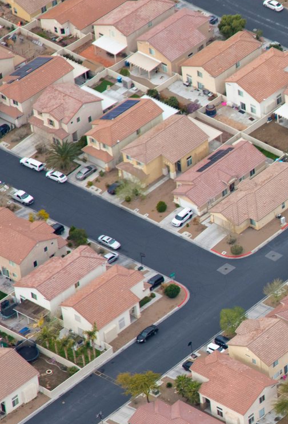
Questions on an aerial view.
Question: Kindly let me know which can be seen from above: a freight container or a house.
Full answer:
It is a house that can be seen here.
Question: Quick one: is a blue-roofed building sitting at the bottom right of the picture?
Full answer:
No, the scene shows no blue-roofed building at the bottom right of the picture.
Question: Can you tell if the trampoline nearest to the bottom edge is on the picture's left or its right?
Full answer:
The trampoline nearest to the bottom edge sits on the left side.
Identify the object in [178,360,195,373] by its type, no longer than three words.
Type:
vehicle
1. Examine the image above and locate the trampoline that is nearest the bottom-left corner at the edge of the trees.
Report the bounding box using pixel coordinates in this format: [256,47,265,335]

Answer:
[16,336,38,357]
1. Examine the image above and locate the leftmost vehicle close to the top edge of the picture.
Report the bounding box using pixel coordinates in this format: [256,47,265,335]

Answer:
[204,15,223,27]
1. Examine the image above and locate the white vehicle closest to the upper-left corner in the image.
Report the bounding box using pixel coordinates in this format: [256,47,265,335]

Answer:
[20,158,45,173]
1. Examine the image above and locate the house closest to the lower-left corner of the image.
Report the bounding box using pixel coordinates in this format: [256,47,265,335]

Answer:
[0,353,38,418]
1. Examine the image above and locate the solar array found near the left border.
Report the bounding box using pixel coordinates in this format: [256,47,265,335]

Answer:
[10,58,45,79]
